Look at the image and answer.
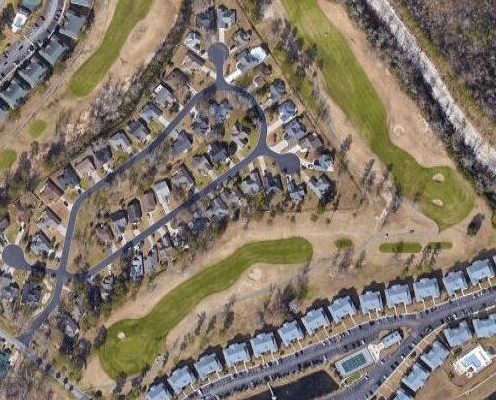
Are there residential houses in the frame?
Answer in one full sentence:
Yes, the photo shows a residential house.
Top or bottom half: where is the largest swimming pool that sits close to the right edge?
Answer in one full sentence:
It is in the bottom half that the largest swimming pool that sits close to the right edge appears.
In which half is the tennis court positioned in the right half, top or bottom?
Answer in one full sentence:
The tennis court positioned in the right half sits in the bottom half of the picture.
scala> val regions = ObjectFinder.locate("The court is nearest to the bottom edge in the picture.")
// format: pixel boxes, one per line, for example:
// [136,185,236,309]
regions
[336,346,373,377]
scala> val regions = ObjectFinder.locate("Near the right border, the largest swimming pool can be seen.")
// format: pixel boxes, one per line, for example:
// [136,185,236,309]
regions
[453,343,495,376]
